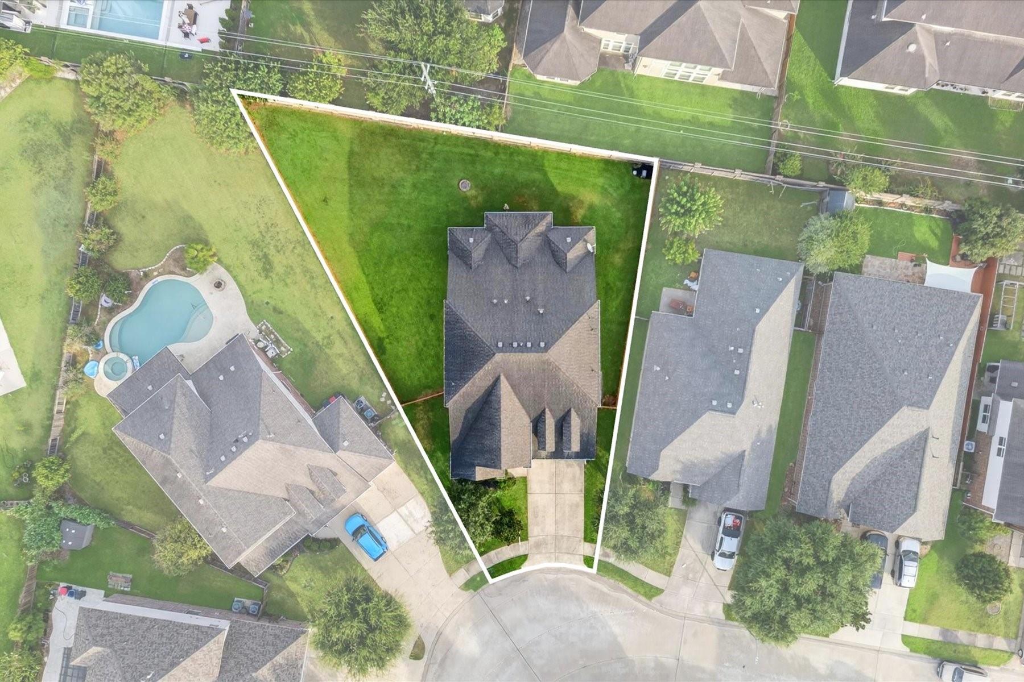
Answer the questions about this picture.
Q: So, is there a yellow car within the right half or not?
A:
No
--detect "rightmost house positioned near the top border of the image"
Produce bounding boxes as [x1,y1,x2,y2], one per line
[829,0,1024,105]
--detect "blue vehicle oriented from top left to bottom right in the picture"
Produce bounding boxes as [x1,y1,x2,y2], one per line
[346,510,388,563]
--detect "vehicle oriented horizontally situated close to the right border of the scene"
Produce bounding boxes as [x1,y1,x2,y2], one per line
[933,656,993,682]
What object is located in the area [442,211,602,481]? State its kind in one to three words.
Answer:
house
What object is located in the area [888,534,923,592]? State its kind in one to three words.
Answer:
car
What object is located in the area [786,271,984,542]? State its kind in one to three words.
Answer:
house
